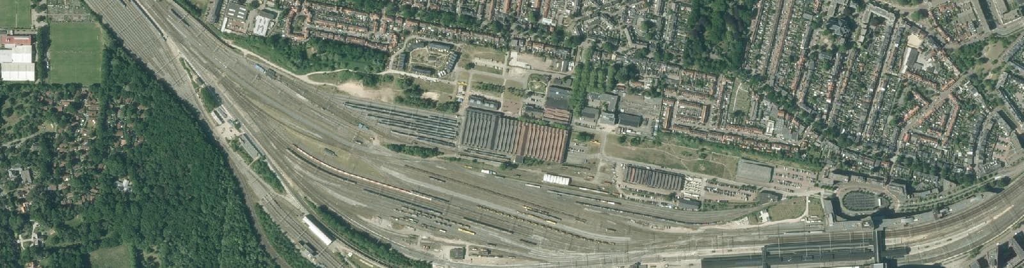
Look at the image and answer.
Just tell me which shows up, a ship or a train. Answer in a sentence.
Visible in the photo is a train.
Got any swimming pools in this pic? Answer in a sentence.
No, this view has no swimming pool in it.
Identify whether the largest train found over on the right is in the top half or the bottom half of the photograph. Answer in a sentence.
You can find the largest train found over on the right in the bottom half.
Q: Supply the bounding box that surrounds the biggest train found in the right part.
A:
[576,201,730,225]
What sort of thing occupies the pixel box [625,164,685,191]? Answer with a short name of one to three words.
building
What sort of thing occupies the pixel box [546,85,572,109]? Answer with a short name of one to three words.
building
